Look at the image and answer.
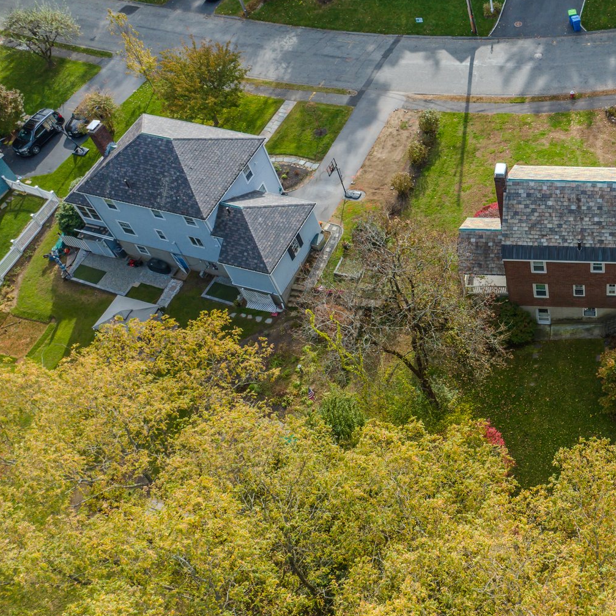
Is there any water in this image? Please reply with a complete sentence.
No, water can't be seen anywhere here.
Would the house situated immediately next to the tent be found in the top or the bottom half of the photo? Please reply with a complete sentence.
It is in the top half that the house situated immediately next to the tent appears.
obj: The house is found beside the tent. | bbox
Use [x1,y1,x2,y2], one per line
[59,112,318,311]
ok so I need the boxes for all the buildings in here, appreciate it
[59,112,318,311]
[0,161,15,202]
[458,157,616,342]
